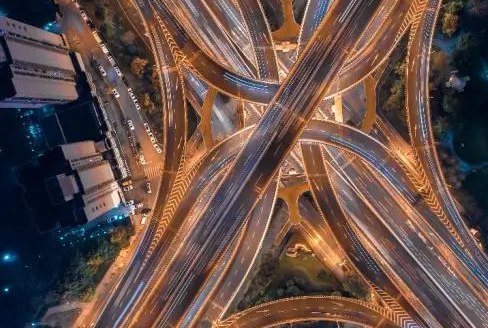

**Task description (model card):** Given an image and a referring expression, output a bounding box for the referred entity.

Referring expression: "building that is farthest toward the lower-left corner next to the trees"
[3,141,125,247]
